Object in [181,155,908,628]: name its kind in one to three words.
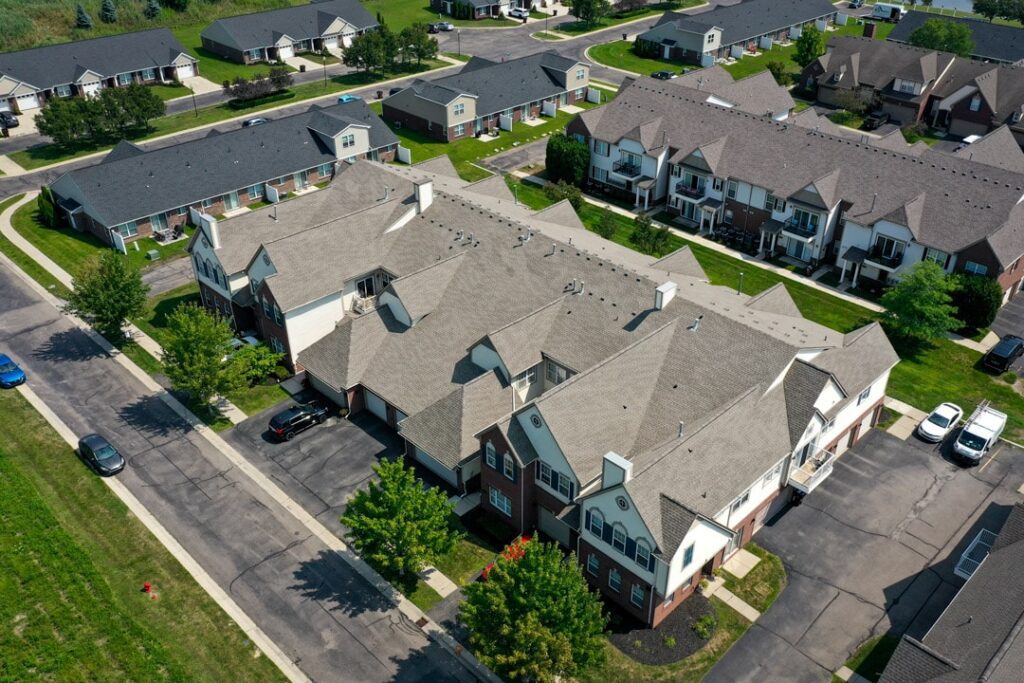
building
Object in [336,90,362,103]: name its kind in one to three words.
vehicle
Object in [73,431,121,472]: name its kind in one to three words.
car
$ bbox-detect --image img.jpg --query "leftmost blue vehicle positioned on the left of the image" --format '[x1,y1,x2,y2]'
[0,350,26,384]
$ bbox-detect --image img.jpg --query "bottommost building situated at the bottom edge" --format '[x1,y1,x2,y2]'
[869,473,1024,683]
